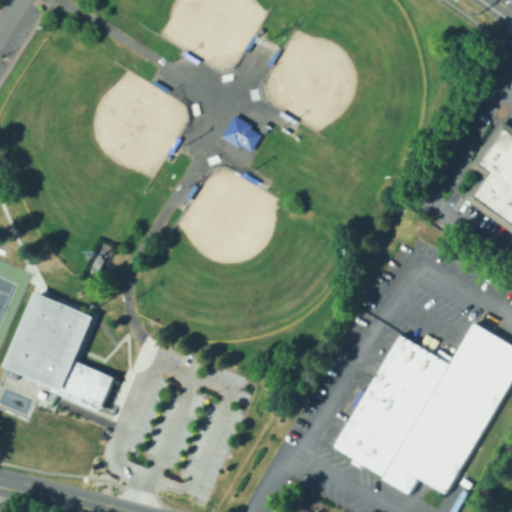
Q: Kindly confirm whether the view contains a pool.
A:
Yes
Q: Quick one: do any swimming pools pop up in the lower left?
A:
Yes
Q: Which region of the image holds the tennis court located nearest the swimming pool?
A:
left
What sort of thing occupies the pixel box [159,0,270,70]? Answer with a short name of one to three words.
baseball field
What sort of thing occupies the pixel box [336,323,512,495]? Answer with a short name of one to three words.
building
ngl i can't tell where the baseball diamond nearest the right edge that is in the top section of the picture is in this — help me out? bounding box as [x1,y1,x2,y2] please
[265,30,358,134]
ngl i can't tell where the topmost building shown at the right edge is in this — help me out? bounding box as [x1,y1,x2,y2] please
[474,132,512,224]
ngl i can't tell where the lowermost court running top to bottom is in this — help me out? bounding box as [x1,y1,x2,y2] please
[0,262,30,350]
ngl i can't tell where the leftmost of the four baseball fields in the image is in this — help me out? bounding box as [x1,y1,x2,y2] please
[0,36,190,272]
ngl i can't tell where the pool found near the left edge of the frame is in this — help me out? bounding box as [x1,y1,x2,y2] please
[1,389,32,414]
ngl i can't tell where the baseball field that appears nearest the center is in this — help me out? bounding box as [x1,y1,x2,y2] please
[140,166,340,344]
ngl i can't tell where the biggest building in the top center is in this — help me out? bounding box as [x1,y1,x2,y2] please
[222,116,262,152]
